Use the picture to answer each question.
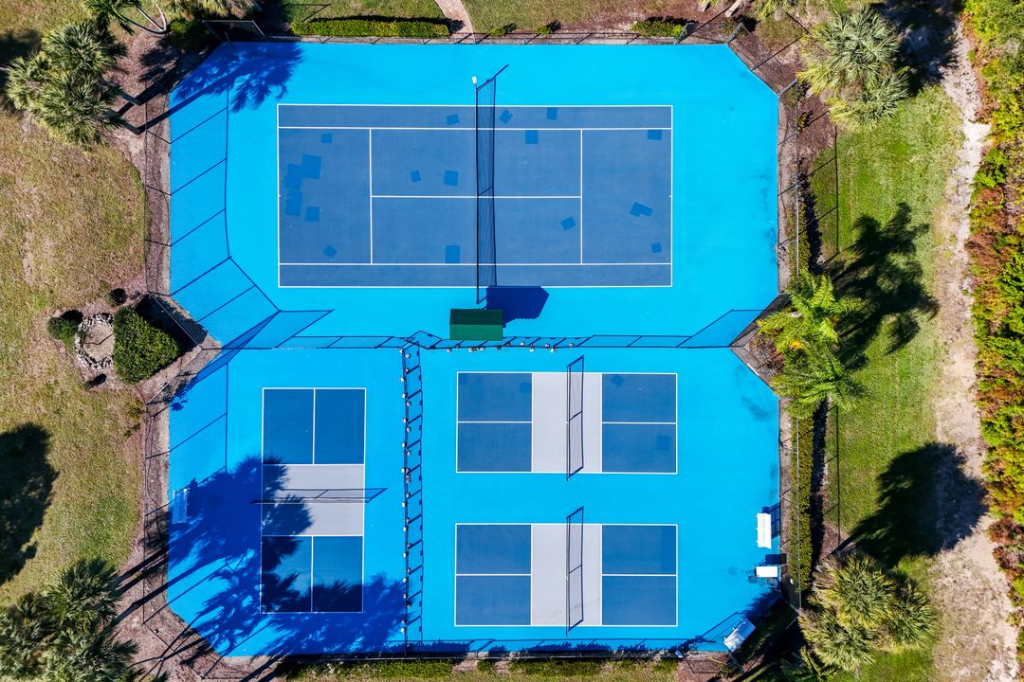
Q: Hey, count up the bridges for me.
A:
none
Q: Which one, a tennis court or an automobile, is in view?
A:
tennis court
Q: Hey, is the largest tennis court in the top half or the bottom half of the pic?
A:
top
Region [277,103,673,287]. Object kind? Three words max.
tennis court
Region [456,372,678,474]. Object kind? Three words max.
sports court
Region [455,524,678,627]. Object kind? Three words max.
sports court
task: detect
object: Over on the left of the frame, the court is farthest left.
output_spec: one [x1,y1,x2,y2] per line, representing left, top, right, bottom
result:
[260,388,365,613]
